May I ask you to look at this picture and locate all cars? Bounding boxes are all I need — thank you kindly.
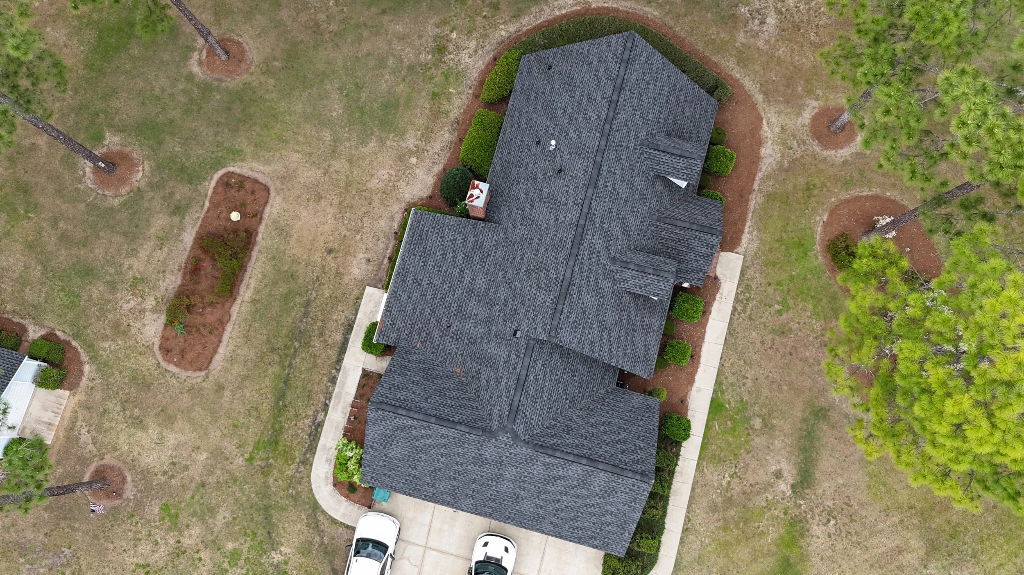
[460,532,517,575]
[342,511,401,575]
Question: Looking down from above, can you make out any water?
No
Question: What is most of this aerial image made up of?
grass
